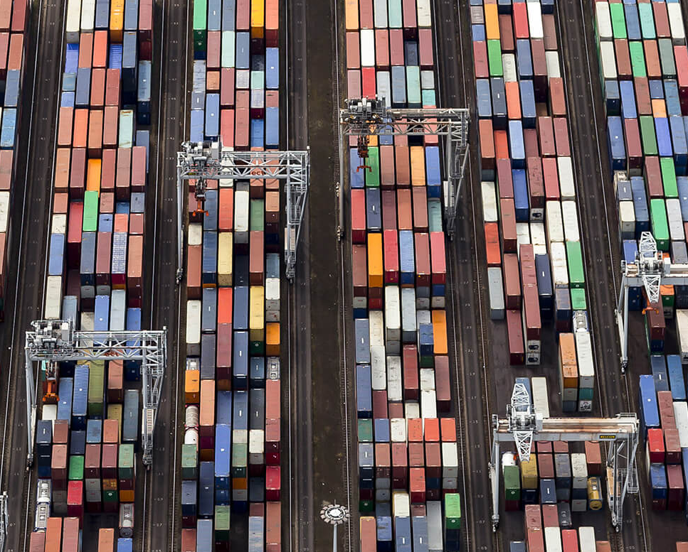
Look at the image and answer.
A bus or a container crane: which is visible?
container crane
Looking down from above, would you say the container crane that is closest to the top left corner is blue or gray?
gray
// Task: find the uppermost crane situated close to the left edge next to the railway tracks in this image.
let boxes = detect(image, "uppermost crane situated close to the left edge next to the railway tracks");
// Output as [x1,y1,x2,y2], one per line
[22,302,164,479]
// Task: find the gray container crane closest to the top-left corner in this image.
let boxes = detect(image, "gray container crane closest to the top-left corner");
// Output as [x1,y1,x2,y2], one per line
[175,126,308,288]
